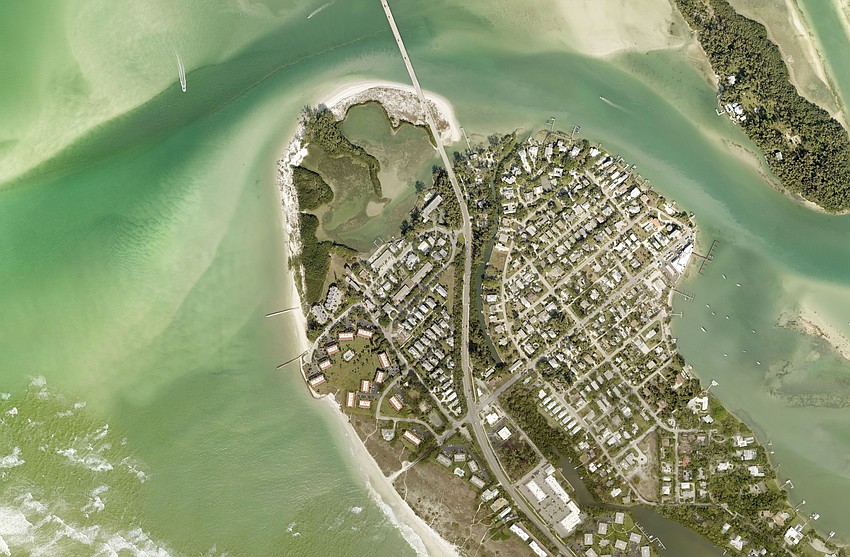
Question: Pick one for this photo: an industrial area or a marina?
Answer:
marina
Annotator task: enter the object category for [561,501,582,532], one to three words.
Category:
building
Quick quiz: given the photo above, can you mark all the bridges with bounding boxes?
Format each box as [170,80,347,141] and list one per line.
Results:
[381,0,446,152]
